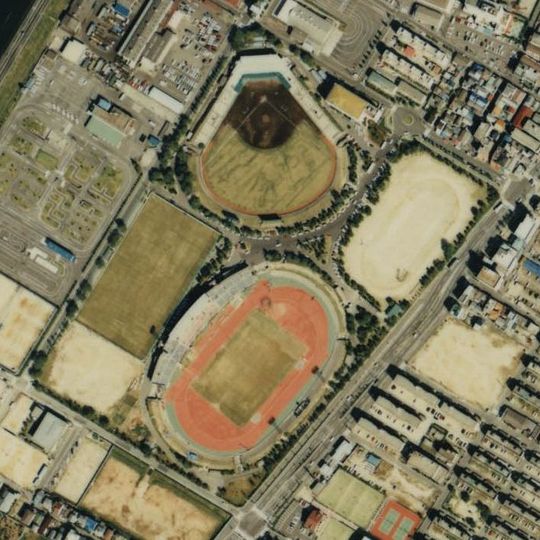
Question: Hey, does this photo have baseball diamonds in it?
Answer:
Yes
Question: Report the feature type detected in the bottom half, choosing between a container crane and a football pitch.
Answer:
football pitch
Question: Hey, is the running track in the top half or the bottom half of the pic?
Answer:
bottom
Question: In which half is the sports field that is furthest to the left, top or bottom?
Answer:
bottom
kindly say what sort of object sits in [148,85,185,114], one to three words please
shed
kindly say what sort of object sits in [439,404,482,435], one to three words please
building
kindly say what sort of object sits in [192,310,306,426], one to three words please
soccer field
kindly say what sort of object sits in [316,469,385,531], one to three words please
sports field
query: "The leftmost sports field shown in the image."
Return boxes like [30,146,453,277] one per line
[43,322,139,411]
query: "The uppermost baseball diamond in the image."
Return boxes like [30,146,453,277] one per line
[201,75,337,217]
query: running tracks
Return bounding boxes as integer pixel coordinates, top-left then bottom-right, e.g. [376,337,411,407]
[164,276,335,458]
